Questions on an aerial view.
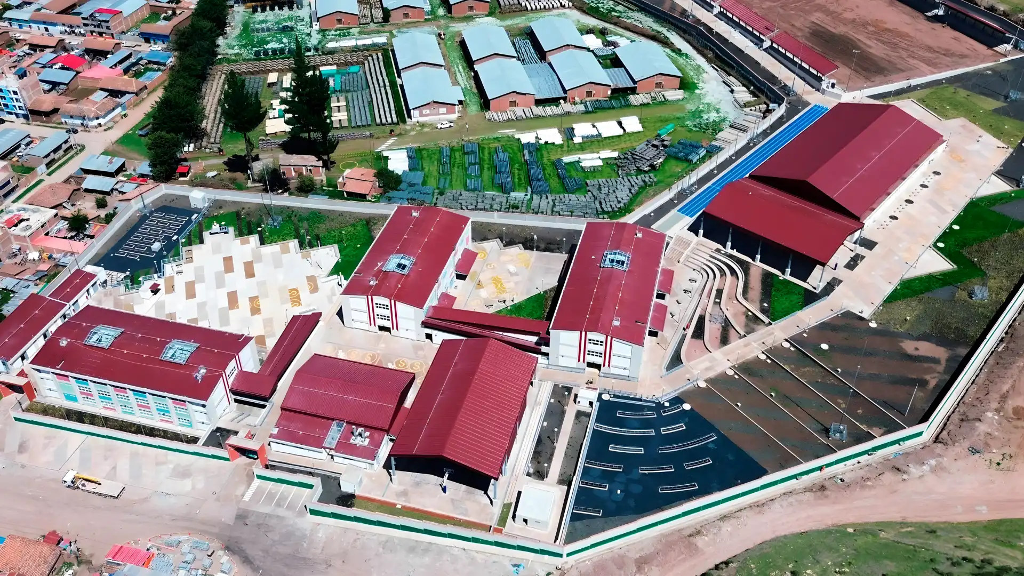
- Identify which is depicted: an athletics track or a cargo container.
athletics track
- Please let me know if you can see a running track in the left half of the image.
No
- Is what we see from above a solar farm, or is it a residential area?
residential area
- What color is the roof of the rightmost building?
red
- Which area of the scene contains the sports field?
top right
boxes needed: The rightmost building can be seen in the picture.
[753,103,944,222]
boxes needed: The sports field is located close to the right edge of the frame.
[762,0,1008,94]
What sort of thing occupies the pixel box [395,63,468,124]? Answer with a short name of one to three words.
building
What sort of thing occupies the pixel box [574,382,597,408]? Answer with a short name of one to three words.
shed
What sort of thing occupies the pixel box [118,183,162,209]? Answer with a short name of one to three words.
house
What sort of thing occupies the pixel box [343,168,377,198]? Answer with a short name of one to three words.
house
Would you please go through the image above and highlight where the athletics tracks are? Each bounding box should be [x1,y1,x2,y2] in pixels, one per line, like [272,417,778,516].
[677,107,829,218]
